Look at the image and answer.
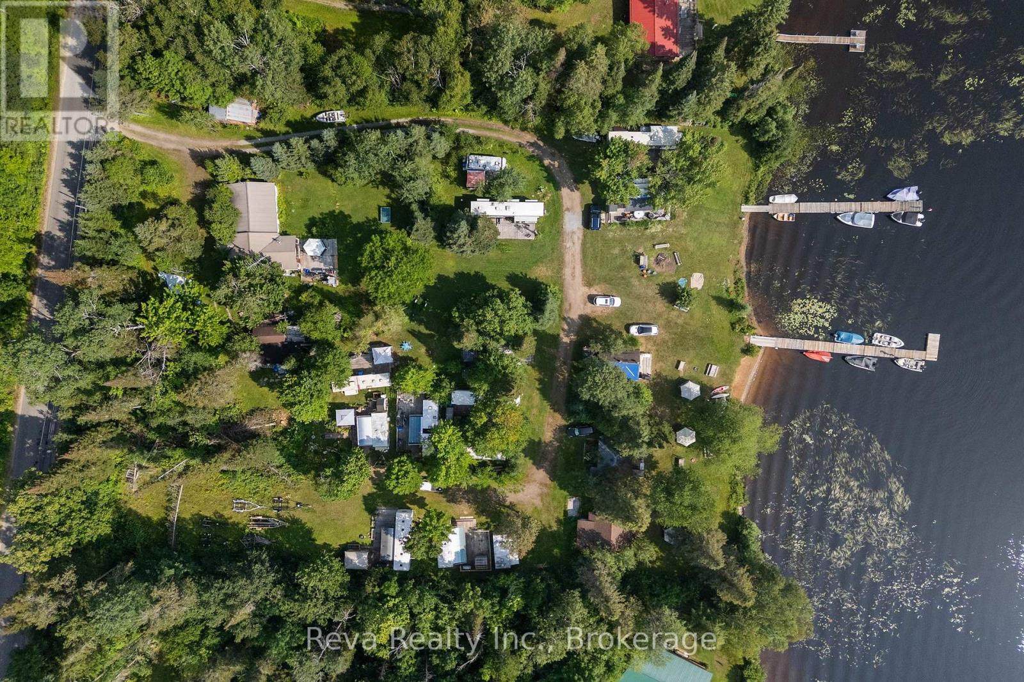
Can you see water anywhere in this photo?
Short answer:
Yes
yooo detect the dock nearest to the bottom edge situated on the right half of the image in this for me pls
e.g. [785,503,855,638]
[749,334,939,362]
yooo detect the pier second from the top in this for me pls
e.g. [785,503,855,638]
[742,201,923,214]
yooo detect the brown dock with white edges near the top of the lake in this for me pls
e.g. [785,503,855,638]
[778,29,866,52]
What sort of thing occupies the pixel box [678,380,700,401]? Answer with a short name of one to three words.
gazebo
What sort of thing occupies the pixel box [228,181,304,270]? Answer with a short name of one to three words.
house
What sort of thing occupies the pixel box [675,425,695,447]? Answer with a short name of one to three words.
gazebo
